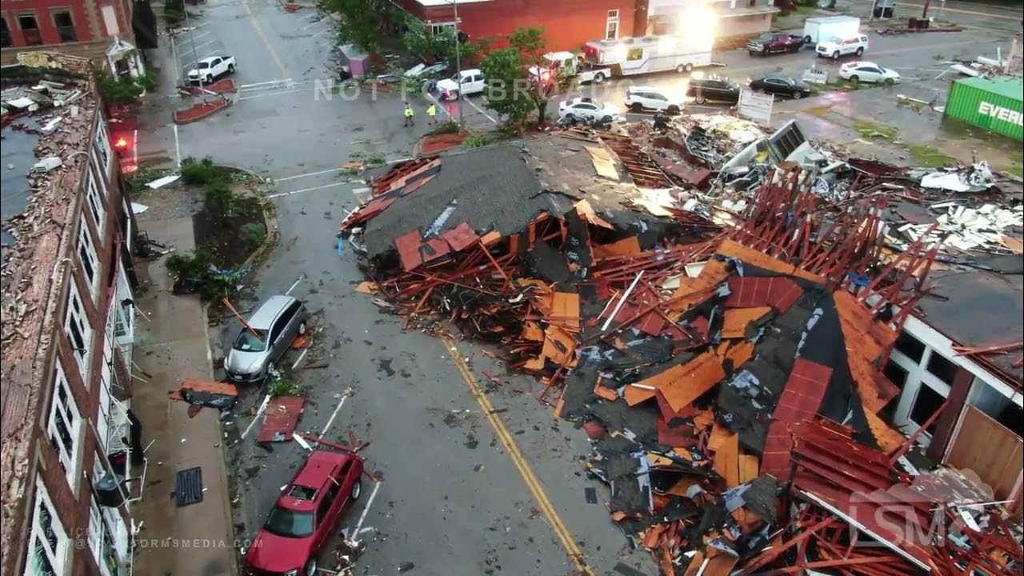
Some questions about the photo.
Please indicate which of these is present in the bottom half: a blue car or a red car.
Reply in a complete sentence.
There is a red car in the bottom half.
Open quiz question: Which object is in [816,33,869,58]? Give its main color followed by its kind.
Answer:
white car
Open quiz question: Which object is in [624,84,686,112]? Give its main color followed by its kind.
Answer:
white car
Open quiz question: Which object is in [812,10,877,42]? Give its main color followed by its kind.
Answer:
white trailer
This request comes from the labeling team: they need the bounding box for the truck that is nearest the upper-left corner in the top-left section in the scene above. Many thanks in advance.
[182,54,236,83]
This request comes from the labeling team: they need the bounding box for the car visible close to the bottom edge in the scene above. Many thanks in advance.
[241,435,367,576]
